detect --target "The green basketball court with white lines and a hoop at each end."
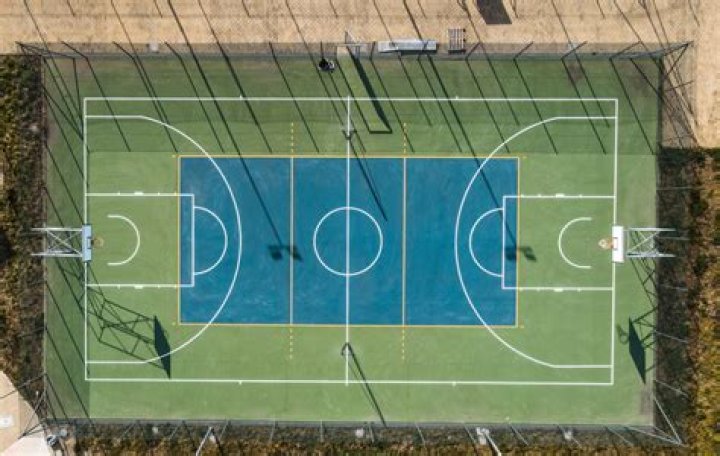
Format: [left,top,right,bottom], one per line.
[45,58,659,424]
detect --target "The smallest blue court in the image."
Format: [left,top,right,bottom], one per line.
[173,124,525,358]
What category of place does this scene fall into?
sports ground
